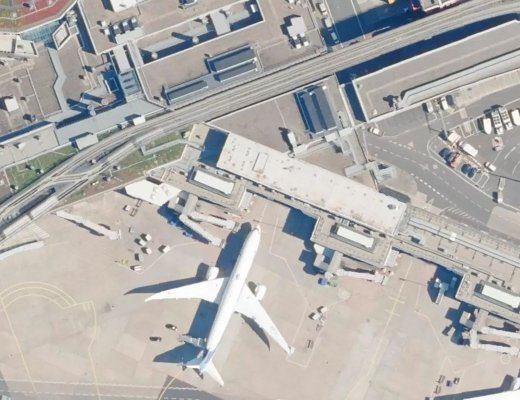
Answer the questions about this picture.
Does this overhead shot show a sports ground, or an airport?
airport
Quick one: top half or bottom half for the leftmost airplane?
bottom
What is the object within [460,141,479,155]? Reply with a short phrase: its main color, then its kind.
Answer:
white vehicle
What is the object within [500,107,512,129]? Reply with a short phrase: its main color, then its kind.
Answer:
white vehicle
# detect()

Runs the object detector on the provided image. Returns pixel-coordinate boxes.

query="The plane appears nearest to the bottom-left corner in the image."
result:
[146,226,291,385]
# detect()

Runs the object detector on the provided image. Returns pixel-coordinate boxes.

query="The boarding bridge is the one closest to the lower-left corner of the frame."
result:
[0,237,50,260]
